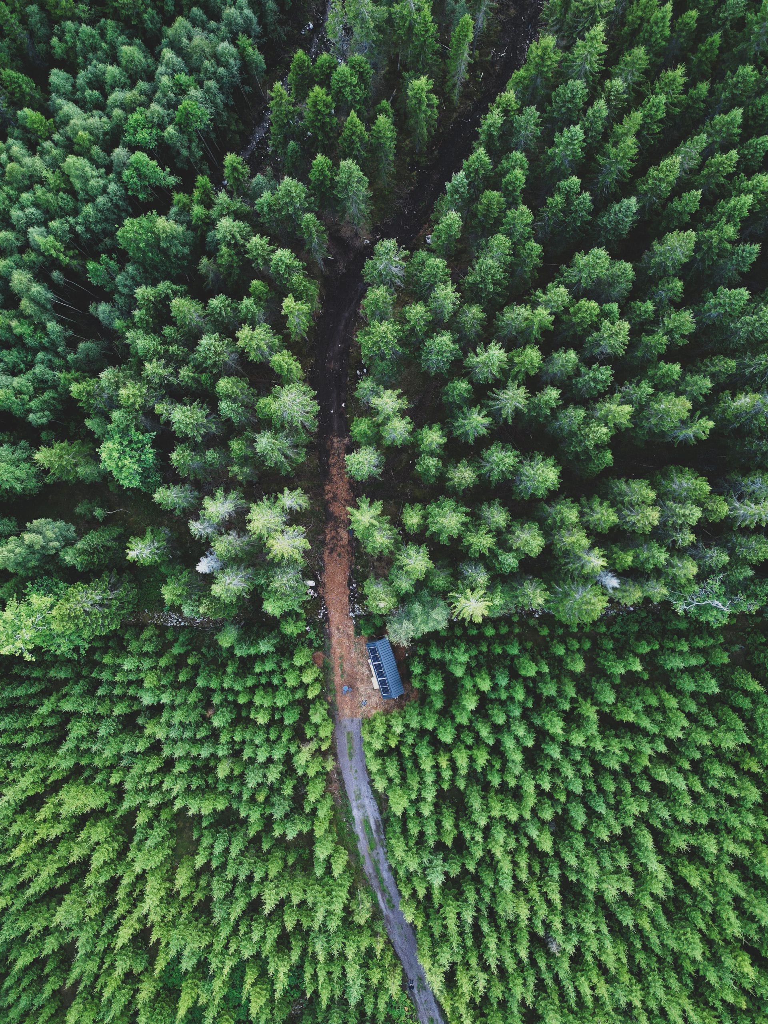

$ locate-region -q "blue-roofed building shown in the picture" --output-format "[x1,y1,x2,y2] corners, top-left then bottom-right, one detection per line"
[366,637,405,699]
